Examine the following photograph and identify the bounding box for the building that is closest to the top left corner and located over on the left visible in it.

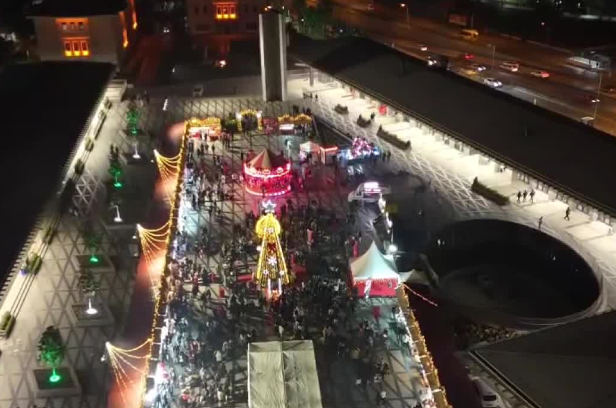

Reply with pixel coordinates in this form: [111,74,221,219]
[22,0,162,64]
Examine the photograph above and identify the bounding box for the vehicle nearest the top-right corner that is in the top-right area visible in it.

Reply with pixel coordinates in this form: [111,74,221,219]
[572,45,615,68]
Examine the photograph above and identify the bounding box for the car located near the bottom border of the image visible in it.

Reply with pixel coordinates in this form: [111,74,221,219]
[465,369,509,406]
